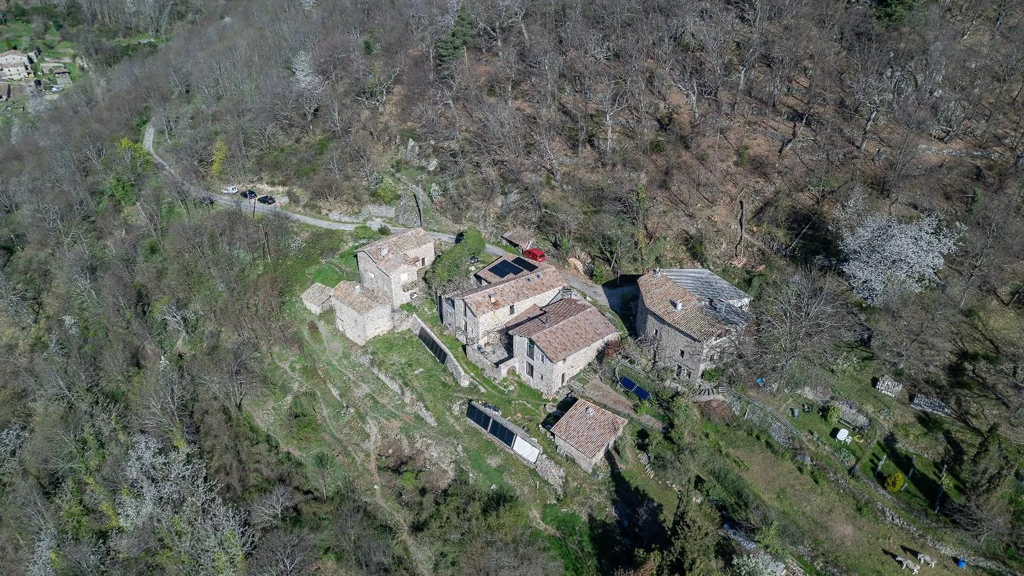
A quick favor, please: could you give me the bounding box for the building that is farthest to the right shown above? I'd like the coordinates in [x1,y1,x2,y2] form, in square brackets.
[634,261,757,380]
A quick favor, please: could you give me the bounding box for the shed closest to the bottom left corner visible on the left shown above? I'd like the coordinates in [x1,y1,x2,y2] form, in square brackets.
[298,280,334,318]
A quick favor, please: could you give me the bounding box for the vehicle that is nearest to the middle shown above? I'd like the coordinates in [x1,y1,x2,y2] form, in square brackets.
[523,247,548,261]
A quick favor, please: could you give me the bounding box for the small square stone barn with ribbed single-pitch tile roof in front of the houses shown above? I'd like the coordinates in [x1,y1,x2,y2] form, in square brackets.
[551,393,630,479]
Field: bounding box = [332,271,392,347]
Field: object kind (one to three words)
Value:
house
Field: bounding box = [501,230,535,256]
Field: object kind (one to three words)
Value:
shed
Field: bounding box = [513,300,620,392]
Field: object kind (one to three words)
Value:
house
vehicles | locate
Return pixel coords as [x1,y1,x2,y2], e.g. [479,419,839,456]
[219,183,239,194]
[523,247,548,261]
[257,195,277,204]
[238,190,258,199]
[197,196,216,206]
